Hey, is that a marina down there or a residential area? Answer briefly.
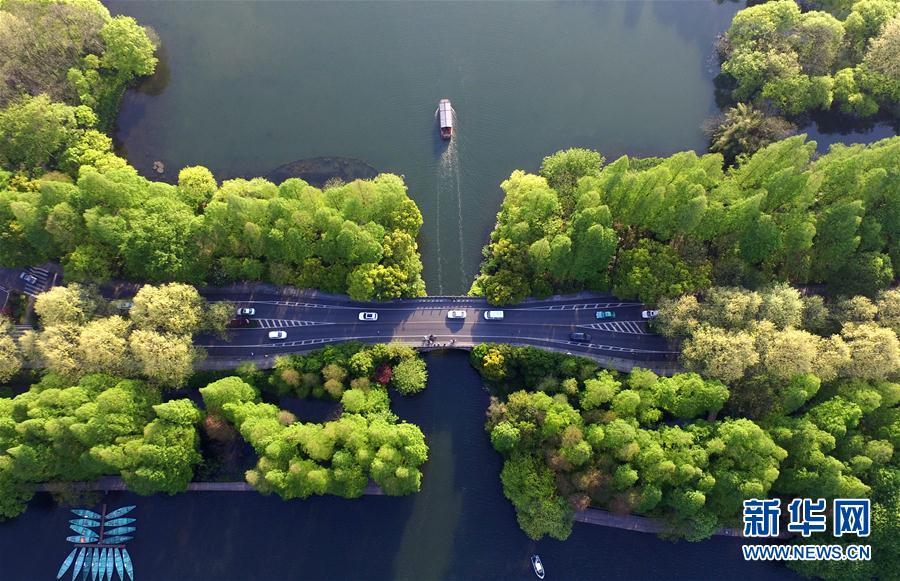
marina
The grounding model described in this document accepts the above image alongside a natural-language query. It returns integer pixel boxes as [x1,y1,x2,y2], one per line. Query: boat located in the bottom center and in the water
[530,556,544,580]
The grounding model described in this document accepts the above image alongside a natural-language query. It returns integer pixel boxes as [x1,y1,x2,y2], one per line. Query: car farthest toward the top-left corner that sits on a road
[18,272,39,286]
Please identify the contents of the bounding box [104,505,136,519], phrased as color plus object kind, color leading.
blue boat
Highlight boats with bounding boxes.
[83,548,91,581]
[439,98,451,141]
[66,536,98,543]
[69,519,100,527]
[72,548,85,581]
[56,548,76,578]
[98,548,105,581]
[114,548,123,581]
[69,509,101,519]
[91,548,98,581]
[102,535,134,544]
[104,518,135,527]
[530,556,544,580]
[105,548,112,581]
[69,526,99,537]
[104,505,136,519]
[123,548,133,581]
[103,527,136,534]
